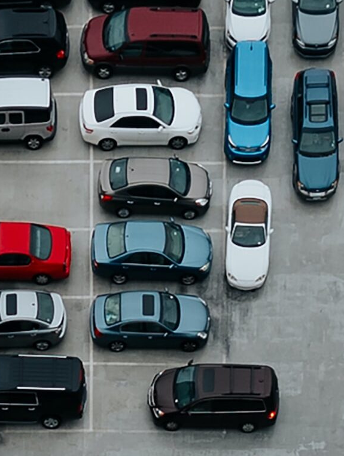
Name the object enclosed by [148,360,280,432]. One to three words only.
car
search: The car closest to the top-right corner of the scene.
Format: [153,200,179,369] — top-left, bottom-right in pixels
[291,0,344,58]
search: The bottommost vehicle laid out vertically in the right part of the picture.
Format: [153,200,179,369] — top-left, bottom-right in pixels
[223,182,275,289]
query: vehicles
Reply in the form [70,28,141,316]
[0,353,87,429]
[80,78,202,150]
[148,360,280,432]
[0,289,66,351]
[223,182,275,289]
[0,222,72,283]
[0,74,57,149]
[99,152,213,218]
[91,285,211,352]
[92,216,213,285]
[223,43,277,165]
[0,4,69,77]
[291,0,344,58]
[222,0,276,47]
[81,0,211,80]
[291,71,344,199]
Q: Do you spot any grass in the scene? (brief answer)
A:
No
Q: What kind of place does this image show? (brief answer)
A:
parking lot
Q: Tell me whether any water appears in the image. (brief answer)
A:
No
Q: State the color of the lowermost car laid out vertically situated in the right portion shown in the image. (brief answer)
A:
white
